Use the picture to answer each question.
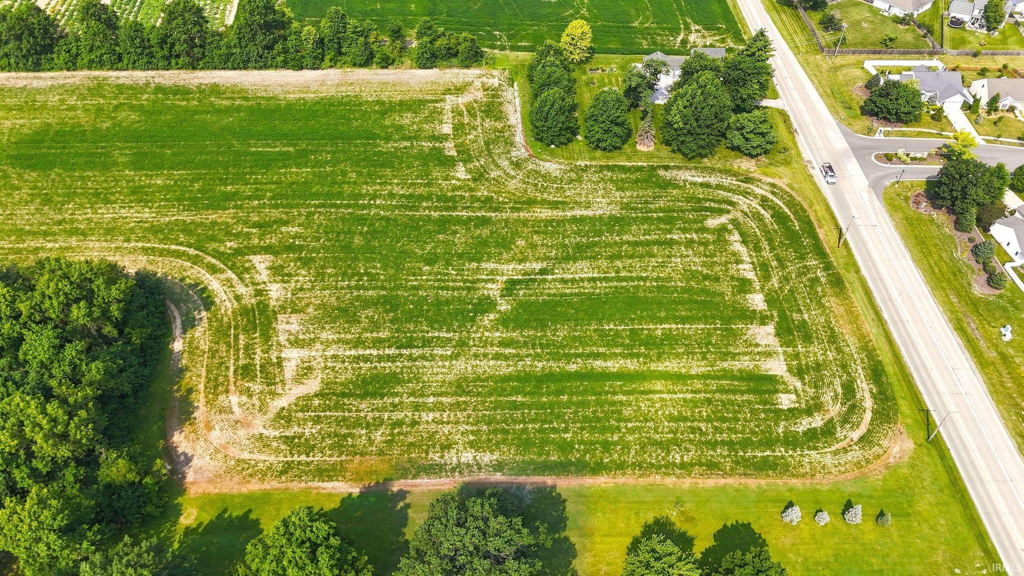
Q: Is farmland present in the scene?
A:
Yes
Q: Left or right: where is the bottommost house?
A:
right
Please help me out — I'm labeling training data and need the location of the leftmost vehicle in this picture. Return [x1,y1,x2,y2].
[821,165,837,183]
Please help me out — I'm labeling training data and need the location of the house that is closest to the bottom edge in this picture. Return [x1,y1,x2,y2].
[988,201,1024,272]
